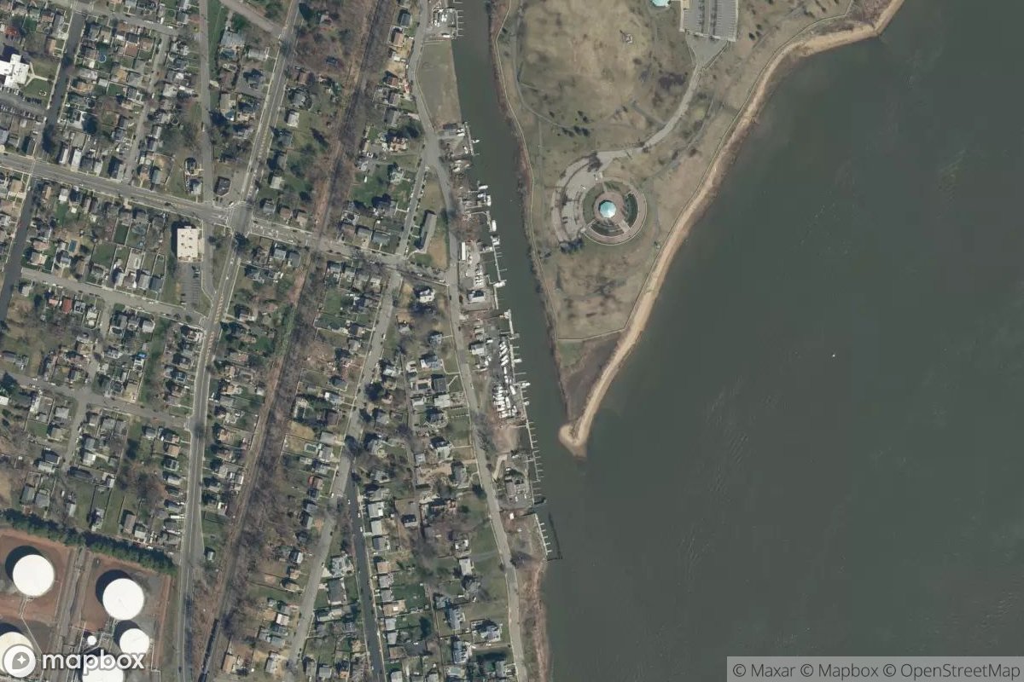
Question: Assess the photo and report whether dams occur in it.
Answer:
No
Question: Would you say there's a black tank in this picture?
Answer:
No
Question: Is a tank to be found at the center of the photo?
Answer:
No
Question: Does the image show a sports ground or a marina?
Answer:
marina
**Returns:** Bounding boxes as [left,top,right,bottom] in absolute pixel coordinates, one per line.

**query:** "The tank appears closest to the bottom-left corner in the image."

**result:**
[0,633,34,678]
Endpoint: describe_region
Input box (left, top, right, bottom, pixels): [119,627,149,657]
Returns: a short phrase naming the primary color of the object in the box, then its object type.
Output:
white storage tank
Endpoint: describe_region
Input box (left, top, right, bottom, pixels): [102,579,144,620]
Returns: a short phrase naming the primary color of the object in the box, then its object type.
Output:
white storage tank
